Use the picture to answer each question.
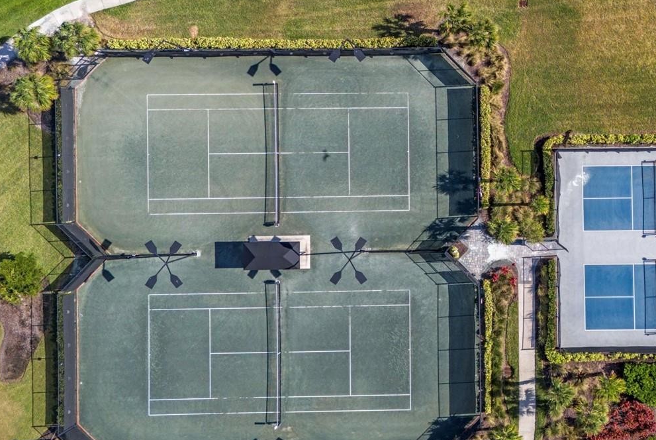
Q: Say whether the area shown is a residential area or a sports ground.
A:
sports ground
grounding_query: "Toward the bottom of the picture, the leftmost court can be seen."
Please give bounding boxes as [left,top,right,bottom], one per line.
[79,253,482,440]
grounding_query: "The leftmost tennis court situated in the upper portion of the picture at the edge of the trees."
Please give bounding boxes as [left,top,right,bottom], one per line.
[77,52,481,256]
